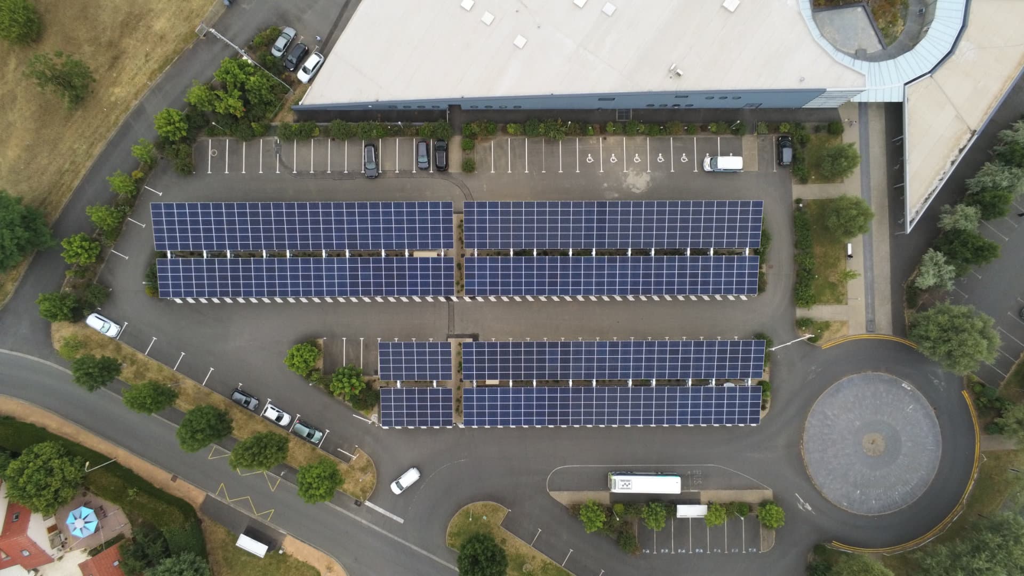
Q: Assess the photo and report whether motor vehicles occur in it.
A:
Yes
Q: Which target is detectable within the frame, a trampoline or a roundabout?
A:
roundabout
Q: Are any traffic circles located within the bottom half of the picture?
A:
Yes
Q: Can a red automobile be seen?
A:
No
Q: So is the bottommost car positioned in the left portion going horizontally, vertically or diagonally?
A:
diagonally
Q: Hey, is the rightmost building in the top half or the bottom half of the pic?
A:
top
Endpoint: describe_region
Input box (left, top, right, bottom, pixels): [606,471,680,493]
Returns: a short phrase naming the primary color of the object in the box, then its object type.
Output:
white bus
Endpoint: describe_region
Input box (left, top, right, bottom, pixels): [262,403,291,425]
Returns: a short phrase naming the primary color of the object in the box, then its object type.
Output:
white car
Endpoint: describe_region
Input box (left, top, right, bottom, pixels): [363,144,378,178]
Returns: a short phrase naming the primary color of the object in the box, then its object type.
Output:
gray car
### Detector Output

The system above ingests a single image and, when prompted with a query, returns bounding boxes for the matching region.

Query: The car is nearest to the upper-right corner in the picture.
[777,136,794,166]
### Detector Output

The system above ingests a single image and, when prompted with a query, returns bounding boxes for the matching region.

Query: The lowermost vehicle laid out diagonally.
[391,466,421,495]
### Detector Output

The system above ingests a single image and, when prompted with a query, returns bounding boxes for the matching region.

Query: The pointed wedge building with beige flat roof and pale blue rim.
[893,0,1024,235]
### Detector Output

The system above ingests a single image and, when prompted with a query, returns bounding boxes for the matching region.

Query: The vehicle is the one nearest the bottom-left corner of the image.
[86,312,121,337]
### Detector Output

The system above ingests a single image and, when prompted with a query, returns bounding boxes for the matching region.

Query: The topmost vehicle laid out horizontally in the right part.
[703,155,744,172]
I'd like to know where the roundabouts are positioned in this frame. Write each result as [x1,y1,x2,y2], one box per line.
[804,374,943,513]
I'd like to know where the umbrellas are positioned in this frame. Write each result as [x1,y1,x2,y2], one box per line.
[68,505,98,536]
